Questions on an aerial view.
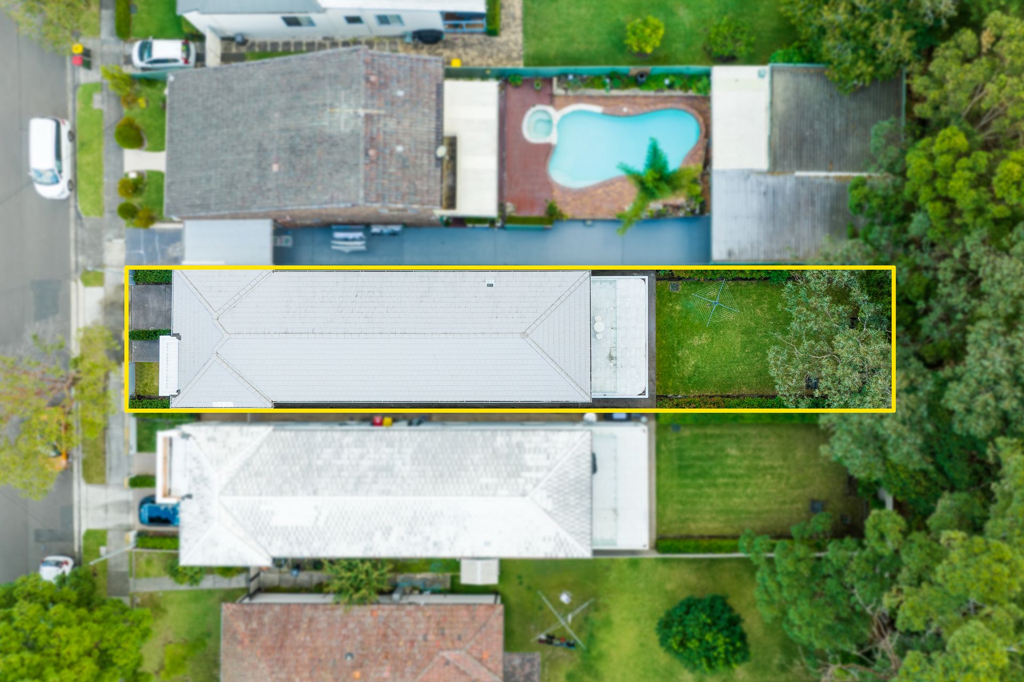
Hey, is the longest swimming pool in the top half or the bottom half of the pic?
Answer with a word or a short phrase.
top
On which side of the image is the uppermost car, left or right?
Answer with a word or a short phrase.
left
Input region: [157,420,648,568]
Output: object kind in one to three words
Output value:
house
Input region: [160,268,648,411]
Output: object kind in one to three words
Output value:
house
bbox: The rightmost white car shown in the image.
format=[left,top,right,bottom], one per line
[135,35,200,70]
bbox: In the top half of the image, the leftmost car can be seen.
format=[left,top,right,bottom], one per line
[28,121,73,200]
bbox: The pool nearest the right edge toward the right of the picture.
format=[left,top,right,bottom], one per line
[547,103,705,193]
